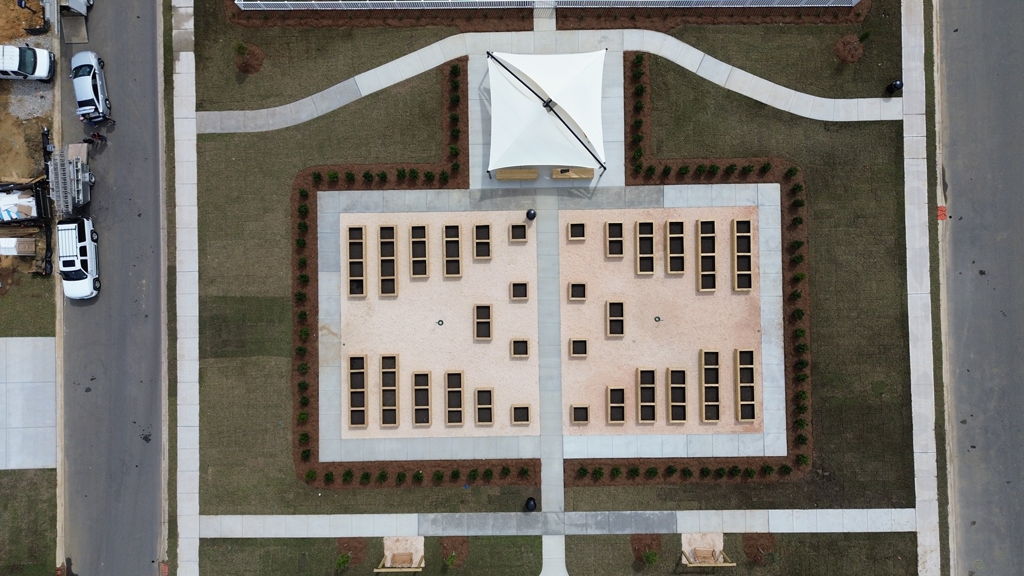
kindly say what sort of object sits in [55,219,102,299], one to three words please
car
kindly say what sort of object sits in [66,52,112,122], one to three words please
car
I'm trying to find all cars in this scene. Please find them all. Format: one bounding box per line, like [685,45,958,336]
[55,219,102,299]
[66,52,112,122]
[0,42,58,84]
